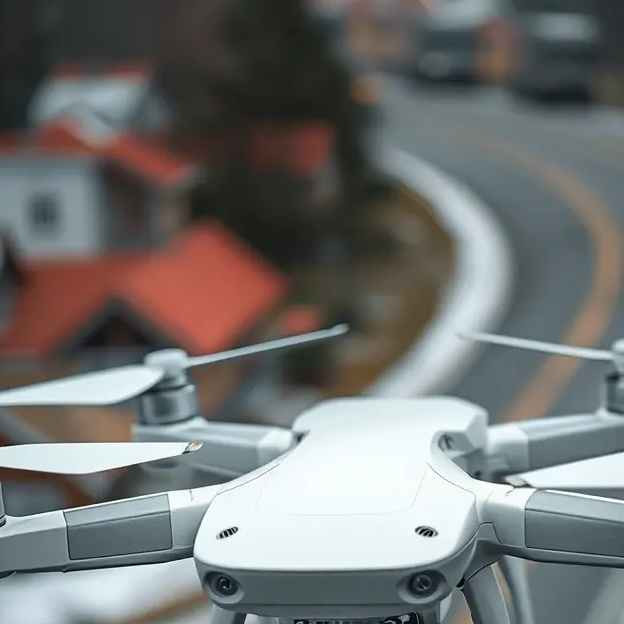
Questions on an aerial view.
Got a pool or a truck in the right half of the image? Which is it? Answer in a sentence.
You can see a truck in the right half of the image.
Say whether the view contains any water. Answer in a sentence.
No, water can't be seen anywhere here.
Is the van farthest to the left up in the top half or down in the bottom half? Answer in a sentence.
The top half of the photo is where the van farthest to the left is.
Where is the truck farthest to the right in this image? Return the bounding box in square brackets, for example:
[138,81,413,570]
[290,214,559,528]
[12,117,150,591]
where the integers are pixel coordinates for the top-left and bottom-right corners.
[504,12,602,98]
